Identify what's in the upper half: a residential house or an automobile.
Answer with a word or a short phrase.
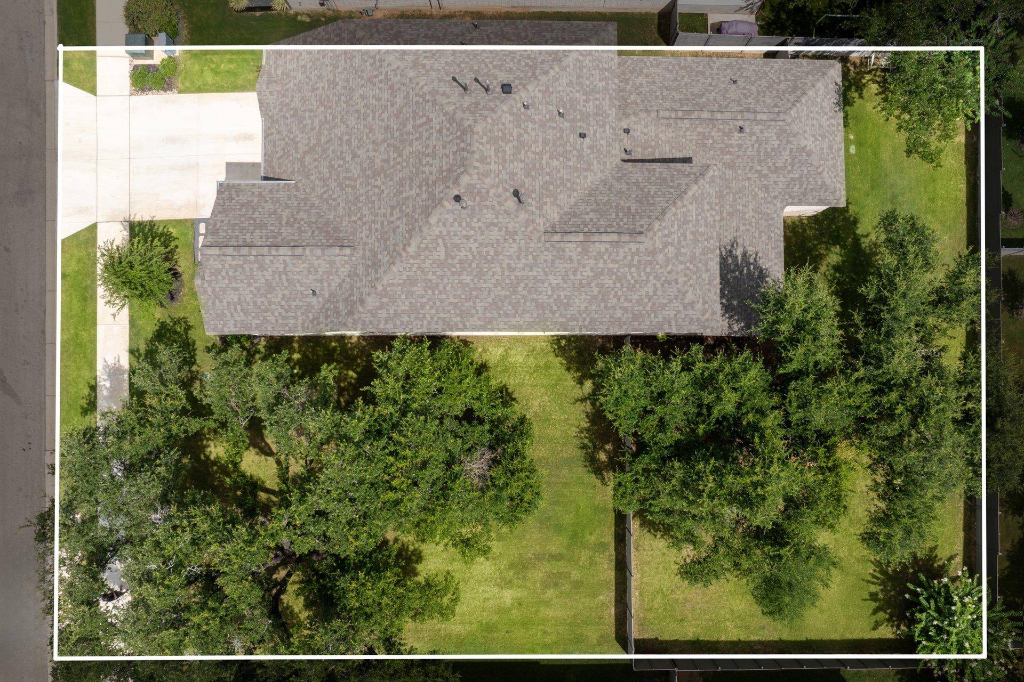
residential house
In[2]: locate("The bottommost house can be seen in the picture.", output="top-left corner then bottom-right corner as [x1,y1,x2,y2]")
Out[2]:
[195,17,847,339]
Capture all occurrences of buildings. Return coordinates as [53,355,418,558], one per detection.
[195,17,847,339]
[285,0,763,12]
